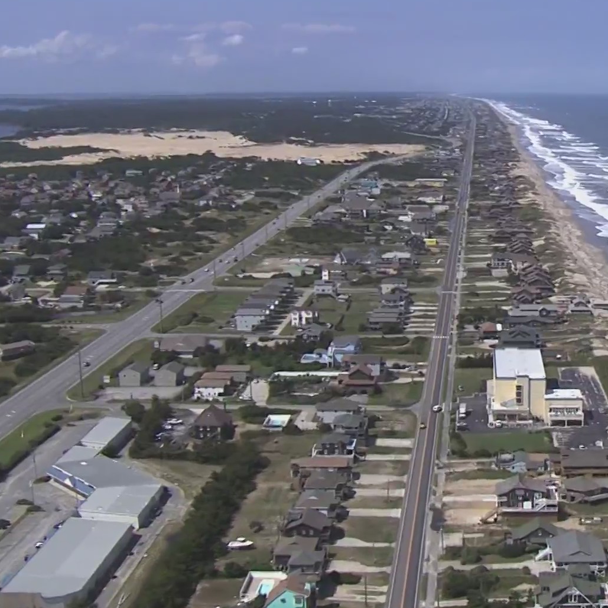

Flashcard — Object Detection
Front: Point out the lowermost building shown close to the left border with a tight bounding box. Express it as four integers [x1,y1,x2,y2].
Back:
[0,516,133,608]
